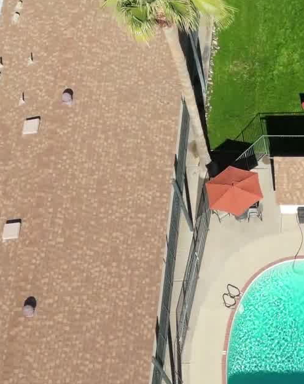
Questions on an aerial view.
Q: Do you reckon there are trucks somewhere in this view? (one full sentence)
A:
No, there isn't any truck down there.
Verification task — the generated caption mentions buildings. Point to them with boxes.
[271,155,304,214]
[0,0,210,384]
